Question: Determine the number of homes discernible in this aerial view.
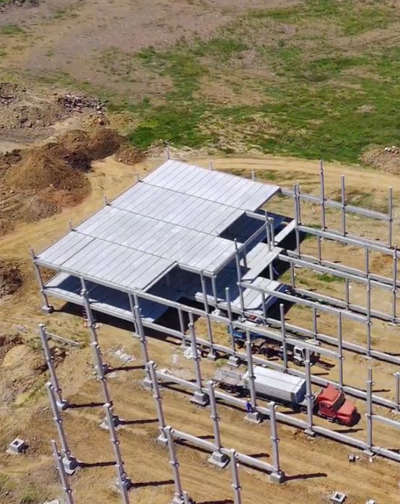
none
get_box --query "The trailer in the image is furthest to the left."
[212,364,248,392]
